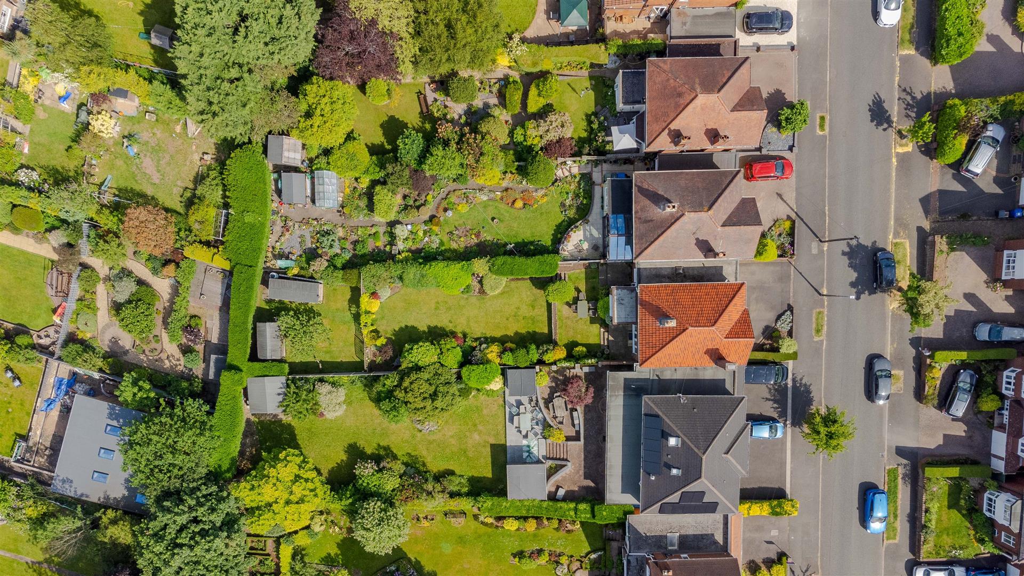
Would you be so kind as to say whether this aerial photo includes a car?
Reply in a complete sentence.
Yes, a car can be made out from above.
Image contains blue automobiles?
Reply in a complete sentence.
Yes, a blue automobile is visible in the scene.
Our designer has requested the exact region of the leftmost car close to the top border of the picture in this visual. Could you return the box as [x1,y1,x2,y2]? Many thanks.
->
[743,9,792,36]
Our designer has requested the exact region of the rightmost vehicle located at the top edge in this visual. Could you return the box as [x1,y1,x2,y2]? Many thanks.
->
[874,0,902,29]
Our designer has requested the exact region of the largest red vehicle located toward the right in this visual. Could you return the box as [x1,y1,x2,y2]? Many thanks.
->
[743,158,790,182]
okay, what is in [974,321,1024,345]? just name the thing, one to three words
car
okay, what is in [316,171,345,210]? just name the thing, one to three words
greenhouse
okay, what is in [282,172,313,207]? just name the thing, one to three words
shed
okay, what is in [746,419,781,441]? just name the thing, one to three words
car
